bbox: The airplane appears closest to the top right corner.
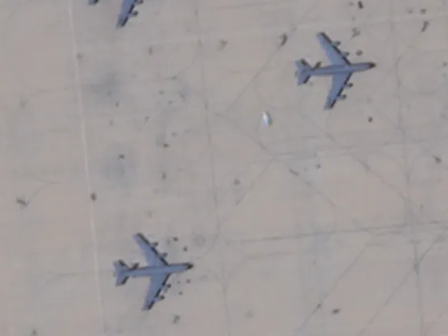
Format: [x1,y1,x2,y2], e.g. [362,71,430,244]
[297,33,373,109]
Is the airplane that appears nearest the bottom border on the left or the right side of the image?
left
